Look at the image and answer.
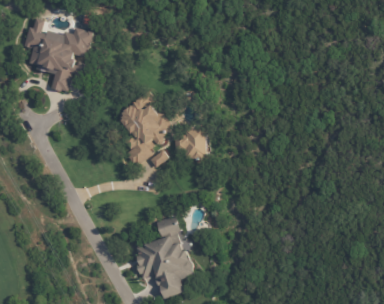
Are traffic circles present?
No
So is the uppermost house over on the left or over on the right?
left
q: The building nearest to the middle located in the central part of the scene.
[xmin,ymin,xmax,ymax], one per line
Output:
[177,131,209,160]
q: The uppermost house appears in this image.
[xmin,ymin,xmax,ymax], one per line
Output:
[28,18,98,94]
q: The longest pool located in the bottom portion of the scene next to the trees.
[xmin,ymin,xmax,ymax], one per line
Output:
[191,209,205,230]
